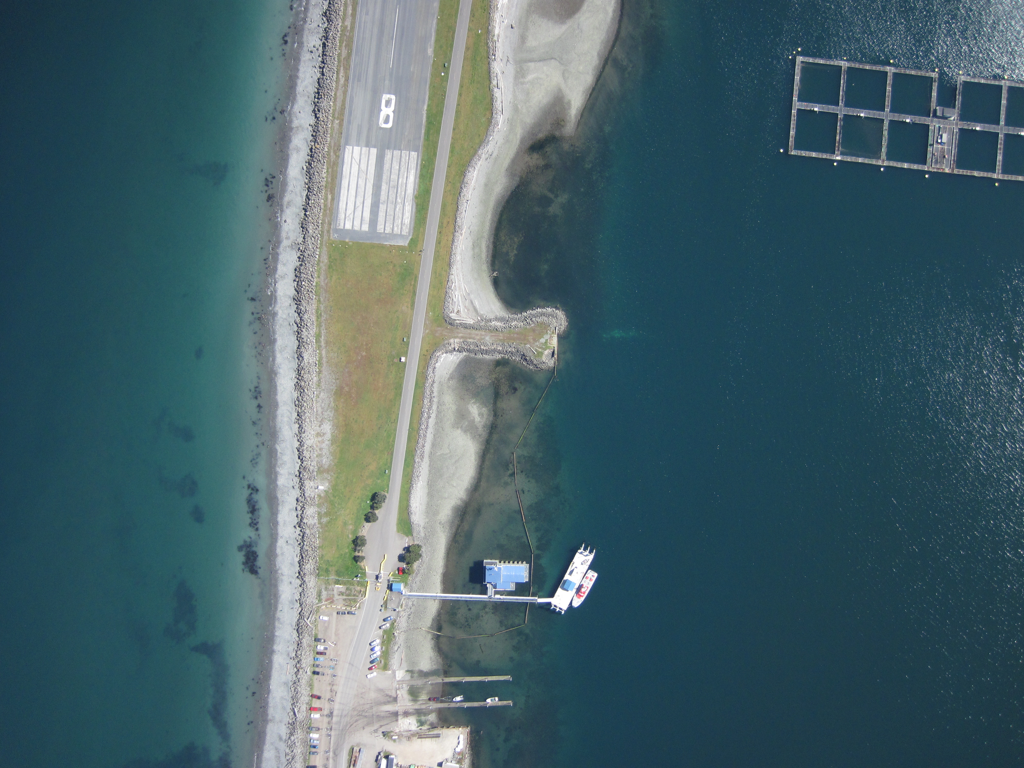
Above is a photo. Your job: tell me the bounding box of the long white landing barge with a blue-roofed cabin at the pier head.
[552,549,592,610]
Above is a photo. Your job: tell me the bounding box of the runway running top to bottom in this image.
[331,0,440,246]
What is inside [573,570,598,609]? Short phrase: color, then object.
white boat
